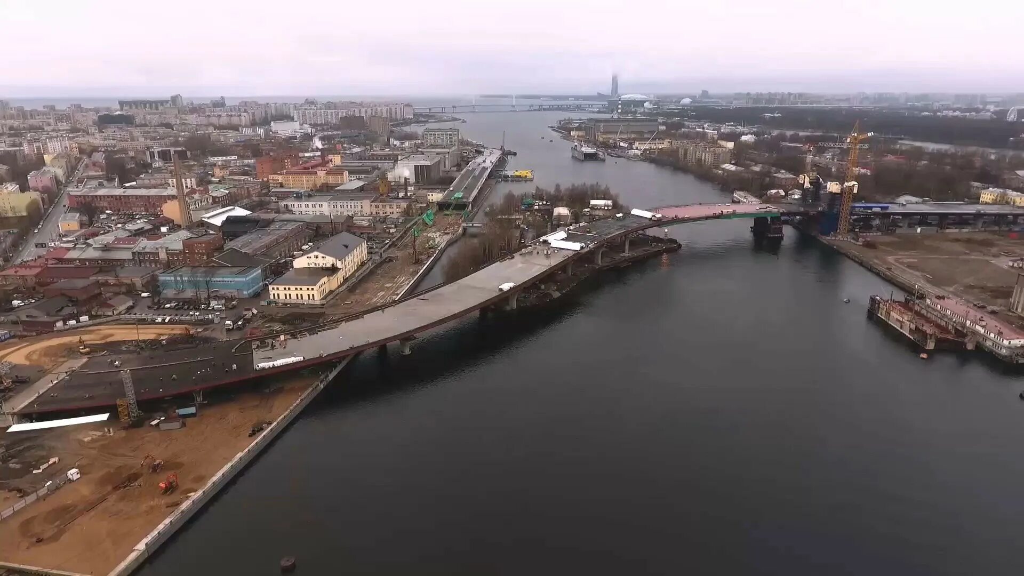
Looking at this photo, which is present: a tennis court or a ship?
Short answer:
ship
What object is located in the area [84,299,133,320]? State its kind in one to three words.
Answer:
house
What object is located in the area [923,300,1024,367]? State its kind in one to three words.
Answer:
ship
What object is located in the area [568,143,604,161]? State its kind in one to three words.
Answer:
ship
